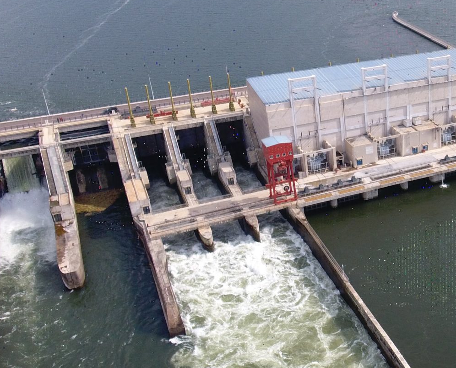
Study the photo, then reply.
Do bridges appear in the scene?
Yes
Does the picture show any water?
Yes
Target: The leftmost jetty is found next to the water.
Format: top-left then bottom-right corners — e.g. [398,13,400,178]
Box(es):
[40,133,85,289]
